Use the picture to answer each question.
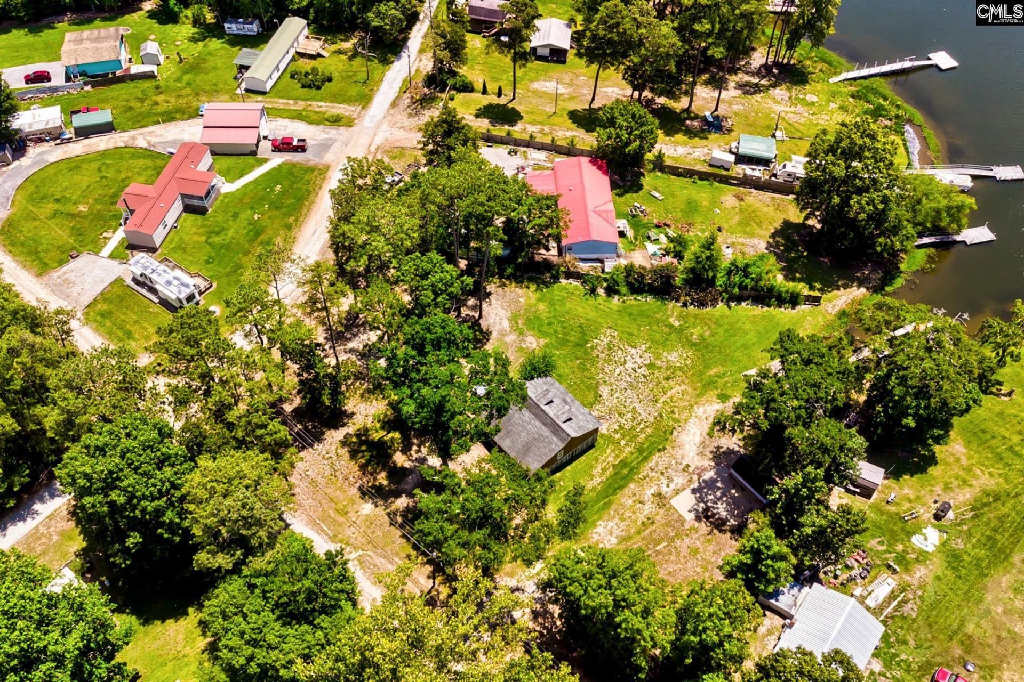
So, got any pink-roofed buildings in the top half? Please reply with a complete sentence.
Yes, a pink-roofed building shows up in the top half.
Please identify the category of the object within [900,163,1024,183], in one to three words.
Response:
pier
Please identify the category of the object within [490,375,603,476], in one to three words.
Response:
house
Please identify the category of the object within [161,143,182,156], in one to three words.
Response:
vehicle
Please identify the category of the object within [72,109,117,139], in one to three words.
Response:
shed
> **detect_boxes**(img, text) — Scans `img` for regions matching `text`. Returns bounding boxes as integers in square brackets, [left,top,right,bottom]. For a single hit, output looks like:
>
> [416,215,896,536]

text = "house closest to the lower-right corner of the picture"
[770,582,885,674]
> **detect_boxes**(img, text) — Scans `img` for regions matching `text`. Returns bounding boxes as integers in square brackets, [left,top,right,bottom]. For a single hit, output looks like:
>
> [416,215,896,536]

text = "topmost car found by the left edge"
[21,68,51,84]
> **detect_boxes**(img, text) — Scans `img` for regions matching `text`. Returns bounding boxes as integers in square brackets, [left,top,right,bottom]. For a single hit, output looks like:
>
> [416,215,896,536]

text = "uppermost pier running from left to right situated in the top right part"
[827,49,960,83]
